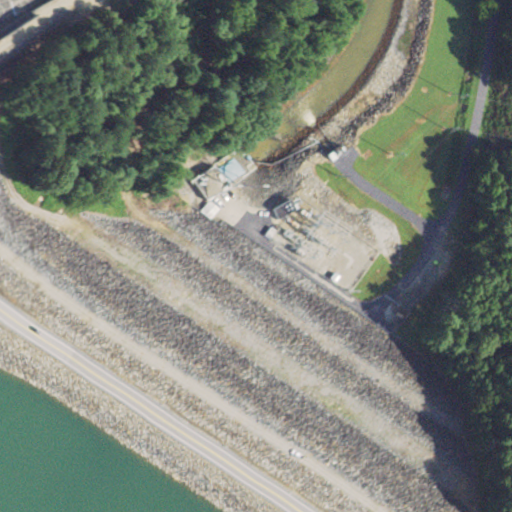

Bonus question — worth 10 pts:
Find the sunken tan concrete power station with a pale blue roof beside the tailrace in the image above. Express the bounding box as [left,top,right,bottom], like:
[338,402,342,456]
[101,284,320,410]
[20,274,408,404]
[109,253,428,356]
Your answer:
[188,153,256,220]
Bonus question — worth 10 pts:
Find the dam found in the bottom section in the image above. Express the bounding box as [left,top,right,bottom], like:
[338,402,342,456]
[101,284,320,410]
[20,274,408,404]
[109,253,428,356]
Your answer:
[0,172,482,512]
